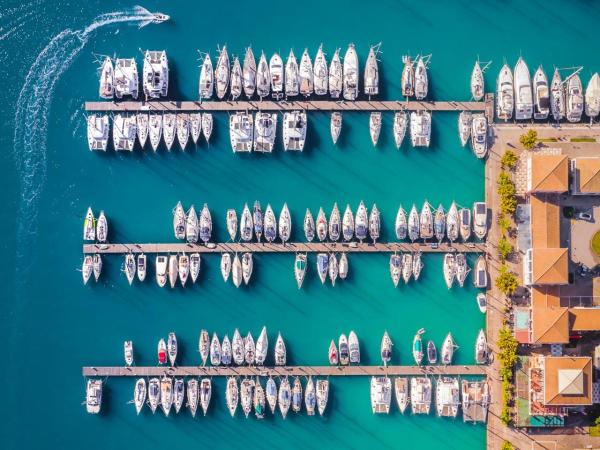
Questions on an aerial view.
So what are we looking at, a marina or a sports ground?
marina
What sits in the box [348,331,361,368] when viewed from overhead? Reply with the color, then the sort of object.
white boat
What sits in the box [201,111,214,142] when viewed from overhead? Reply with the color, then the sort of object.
white boat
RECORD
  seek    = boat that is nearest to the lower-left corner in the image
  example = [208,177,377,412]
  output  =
[87,374,104,414]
